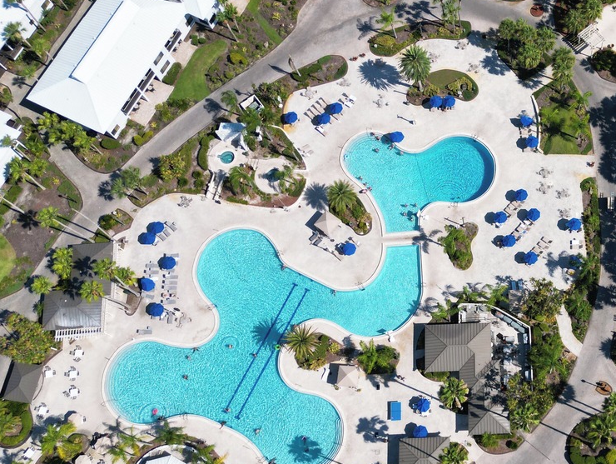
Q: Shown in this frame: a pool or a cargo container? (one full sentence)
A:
There is a pool in the scene.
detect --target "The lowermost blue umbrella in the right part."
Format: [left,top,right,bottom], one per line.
[413,423,429,438]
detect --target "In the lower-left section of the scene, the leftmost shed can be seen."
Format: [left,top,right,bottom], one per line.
[3,363,47,404]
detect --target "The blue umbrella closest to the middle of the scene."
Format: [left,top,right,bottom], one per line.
[342,242,357,256]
